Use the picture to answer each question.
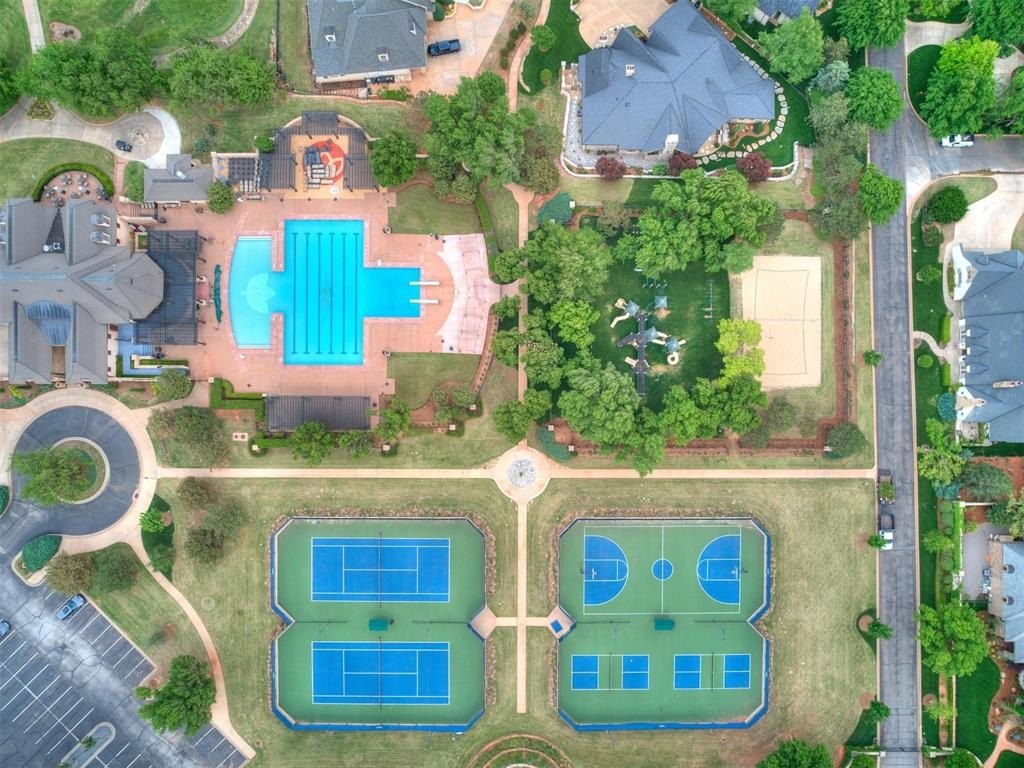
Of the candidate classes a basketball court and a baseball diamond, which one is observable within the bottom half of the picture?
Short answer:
basketball court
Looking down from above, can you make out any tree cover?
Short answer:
Yes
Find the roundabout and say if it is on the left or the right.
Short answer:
left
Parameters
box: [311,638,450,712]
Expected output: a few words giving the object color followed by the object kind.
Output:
blue tennis court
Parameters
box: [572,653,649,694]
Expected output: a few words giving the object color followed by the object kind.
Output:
blue sports court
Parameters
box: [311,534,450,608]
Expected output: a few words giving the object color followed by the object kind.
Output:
blue tennis court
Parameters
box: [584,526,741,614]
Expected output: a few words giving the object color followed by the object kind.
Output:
blue basketball court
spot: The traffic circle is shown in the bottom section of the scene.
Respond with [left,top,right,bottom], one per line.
[0,404,141,559]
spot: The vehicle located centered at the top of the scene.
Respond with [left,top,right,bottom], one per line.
[426,35,463,54]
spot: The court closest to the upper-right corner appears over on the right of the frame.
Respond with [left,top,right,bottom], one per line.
[729,240,825,389]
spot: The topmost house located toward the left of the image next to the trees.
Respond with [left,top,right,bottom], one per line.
[308,0,439,82]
